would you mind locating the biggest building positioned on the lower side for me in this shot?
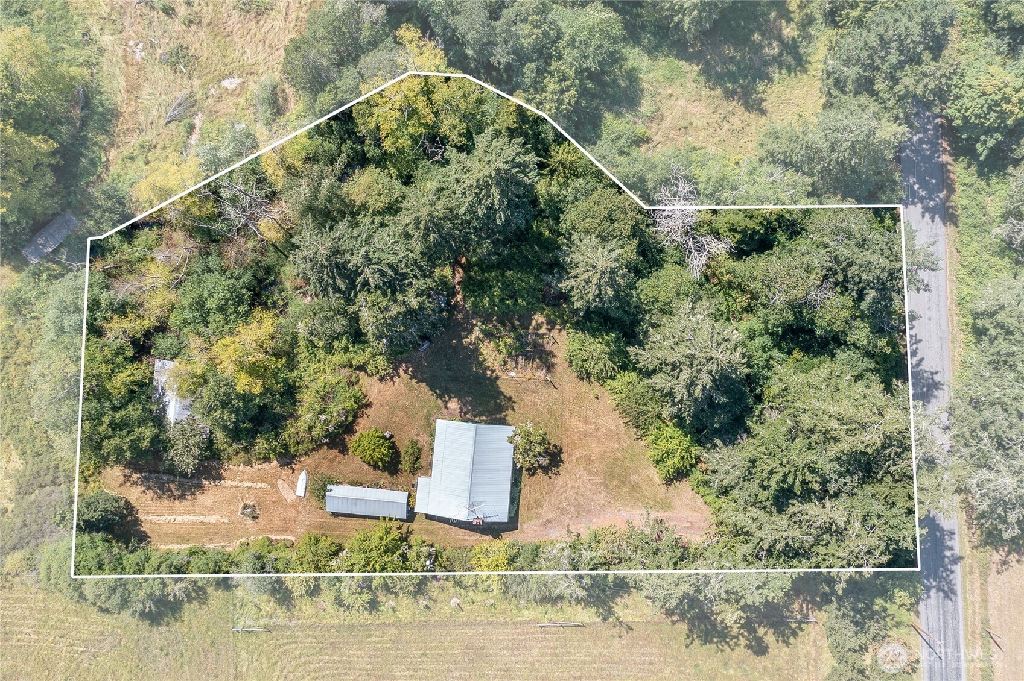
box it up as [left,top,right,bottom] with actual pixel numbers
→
[414,419,516,529]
